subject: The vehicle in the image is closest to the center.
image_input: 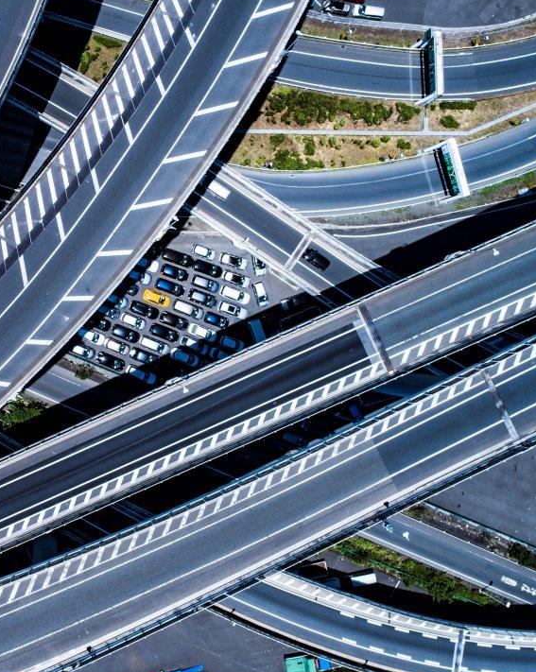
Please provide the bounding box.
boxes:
[247,319,267,347]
